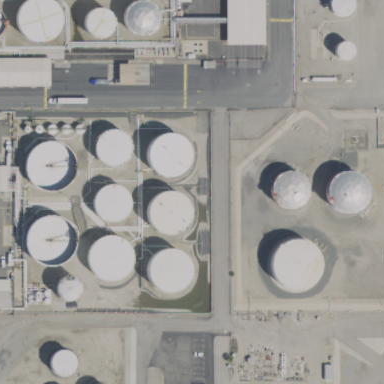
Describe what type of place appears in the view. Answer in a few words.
industrial area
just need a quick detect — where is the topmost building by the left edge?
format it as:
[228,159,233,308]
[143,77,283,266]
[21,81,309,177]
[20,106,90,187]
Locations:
[0,58,51,87]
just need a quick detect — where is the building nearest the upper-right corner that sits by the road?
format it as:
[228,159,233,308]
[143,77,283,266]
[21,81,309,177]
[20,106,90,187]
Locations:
[226,0,266,46]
